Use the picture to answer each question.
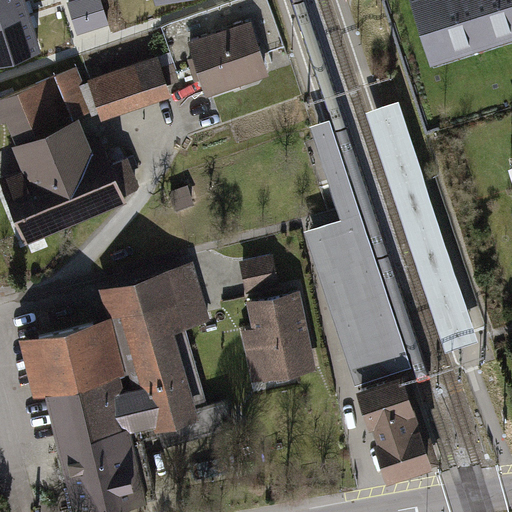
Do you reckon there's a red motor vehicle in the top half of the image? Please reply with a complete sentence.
Yes, looking in the top half of the image, one can make out a red motor vehicle.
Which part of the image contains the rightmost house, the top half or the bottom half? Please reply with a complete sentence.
It is in the top half that the rightmost house appears.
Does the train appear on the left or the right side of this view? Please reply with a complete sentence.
You can find the train on the right side of the picture.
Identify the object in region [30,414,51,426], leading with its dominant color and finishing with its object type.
white vehicle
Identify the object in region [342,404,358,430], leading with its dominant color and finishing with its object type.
white vehicle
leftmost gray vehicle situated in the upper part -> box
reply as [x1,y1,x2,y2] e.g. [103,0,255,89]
[158,101,174,125]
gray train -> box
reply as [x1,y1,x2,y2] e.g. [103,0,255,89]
[290,0,432,383]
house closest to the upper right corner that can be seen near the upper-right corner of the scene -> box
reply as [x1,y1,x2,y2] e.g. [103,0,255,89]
[409,0,512,68]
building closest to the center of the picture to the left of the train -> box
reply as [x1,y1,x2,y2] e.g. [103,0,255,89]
[240,254,279,296]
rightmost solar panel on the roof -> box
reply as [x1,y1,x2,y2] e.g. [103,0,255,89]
[20,188,121,244]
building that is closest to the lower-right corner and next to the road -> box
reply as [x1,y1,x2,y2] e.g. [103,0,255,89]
[356,378,432,486]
